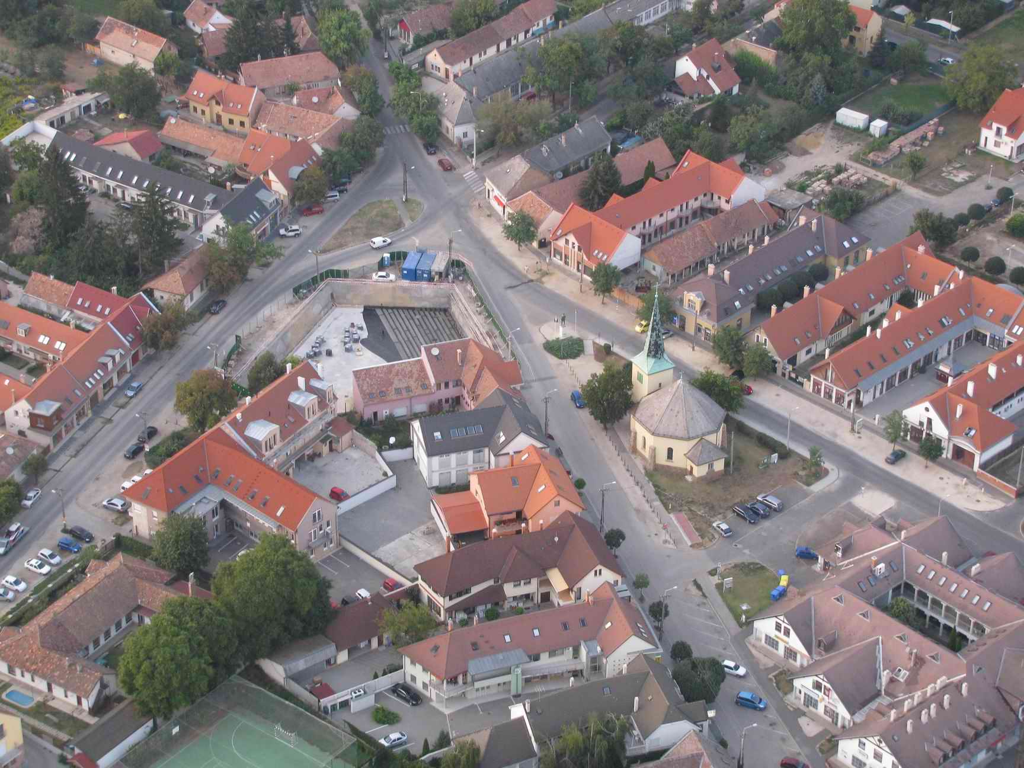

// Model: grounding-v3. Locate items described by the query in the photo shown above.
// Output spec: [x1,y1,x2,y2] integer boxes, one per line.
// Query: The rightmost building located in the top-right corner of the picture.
[980,86,1024,159]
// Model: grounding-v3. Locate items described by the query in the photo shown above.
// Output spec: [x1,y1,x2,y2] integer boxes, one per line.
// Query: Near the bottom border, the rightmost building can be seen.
[755,515,1024,768]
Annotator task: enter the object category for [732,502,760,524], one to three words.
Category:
car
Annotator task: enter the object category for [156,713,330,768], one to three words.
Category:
sports court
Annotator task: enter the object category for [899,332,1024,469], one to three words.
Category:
house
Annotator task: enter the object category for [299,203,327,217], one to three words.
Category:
vehicle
